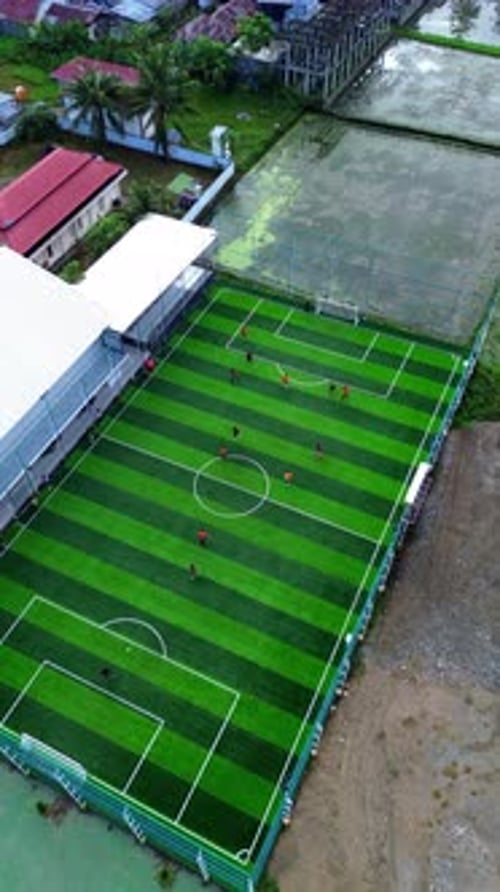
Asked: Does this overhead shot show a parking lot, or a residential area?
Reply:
residential area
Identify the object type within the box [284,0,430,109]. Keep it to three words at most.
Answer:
building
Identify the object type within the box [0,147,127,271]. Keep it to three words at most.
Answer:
house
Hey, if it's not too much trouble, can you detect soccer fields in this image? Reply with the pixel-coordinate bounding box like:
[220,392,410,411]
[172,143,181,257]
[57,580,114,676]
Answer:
[0,280,470,892]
